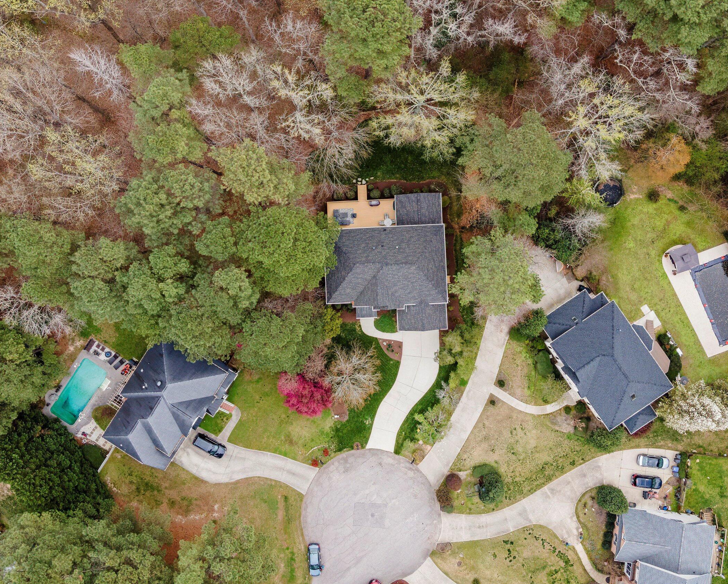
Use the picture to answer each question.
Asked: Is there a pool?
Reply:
Yes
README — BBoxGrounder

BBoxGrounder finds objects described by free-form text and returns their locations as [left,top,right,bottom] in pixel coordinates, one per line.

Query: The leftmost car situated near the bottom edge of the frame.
[306,544,324,578]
